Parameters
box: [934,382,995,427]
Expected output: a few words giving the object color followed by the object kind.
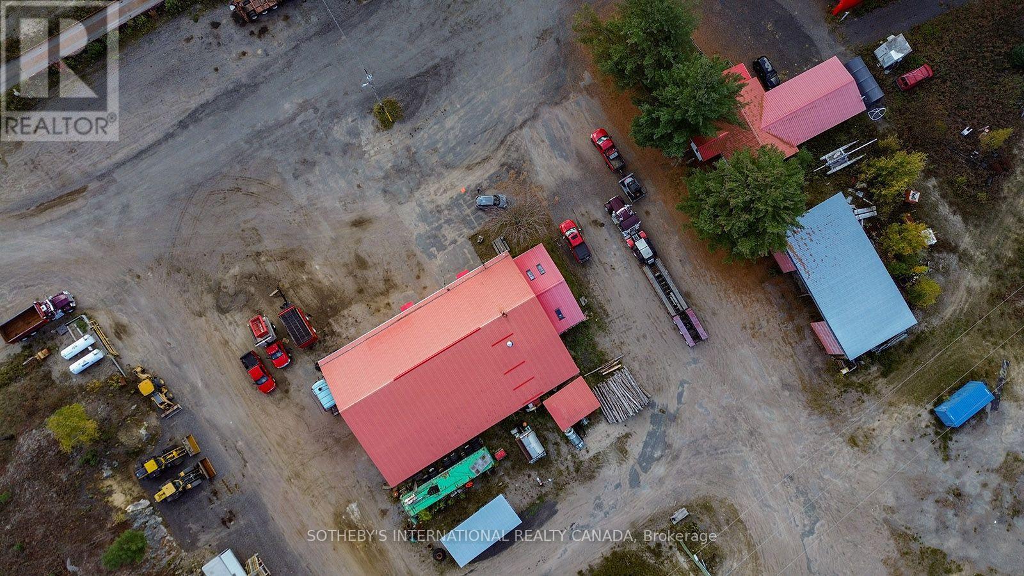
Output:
blue shipping container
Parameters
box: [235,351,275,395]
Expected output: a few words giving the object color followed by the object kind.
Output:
red truck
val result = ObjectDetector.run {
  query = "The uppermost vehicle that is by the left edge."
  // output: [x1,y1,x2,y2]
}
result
[0,290,77,345]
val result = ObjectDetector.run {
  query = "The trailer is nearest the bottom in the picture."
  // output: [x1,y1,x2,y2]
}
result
[205,542,256,576]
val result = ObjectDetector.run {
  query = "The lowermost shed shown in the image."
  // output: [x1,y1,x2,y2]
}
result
[440,492,522,567]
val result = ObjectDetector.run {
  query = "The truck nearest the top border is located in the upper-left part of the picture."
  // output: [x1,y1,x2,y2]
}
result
[222,0,272,27]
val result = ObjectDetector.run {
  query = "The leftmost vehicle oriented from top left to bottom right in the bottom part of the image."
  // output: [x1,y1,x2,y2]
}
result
[131,372,183,417]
